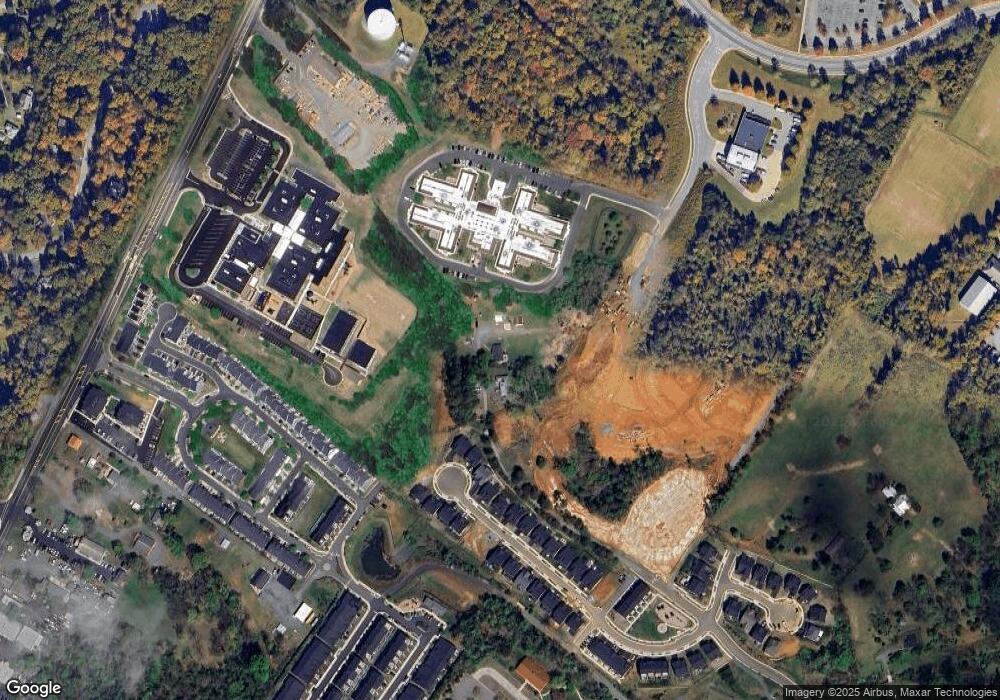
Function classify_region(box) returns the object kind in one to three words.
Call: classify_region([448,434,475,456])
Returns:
house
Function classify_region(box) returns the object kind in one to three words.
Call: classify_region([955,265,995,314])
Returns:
building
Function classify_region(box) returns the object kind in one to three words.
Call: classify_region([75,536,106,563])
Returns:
shed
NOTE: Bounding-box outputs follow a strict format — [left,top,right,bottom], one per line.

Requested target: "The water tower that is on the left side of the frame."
[365,6,396,37]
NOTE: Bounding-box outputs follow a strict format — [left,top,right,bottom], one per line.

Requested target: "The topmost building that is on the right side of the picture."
[728,111,771,171]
